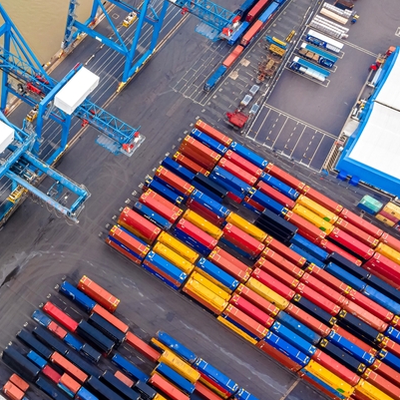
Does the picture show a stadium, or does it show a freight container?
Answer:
freight container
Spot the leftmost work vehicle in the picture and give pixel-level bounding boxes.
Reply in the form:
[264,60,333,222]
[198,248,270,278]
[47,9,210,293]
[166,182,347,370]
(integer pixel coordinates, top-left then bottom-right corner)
[220,104,245,130]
